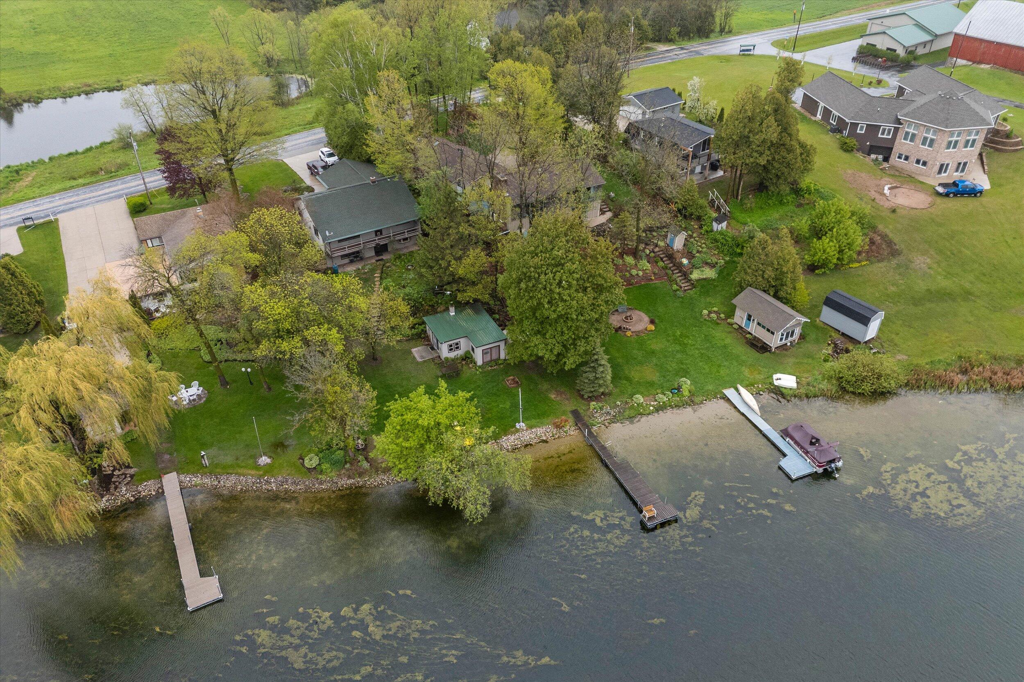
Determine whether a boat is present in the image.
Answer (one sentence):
Yes, the picture does show a boat.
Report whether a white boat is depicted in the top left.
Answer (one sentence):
No, I see no white boat in the top left.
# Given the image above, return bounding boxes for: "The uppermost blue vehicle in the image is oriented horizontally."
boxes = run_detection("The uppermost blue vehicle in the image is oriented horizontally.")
[936,179,989,197]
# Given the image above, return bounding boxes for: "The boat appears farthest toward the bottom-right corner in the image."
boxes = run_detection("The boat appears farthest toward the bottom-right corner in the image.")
[780,423,840,479]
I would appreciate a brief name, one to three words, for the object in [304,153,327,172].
vehicle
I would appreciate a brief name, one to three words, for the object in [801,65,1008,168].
house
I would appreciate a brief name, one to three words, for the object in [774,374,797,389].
boat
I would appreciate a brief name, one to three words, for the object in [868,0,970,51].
building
